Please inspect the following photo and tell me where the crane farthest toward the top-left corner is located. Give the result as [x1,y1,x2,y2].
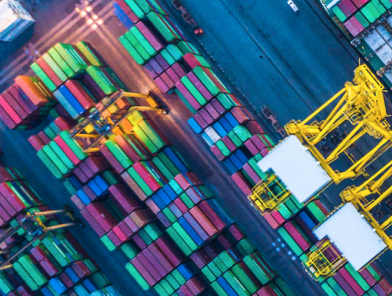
[66,88,165,156]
